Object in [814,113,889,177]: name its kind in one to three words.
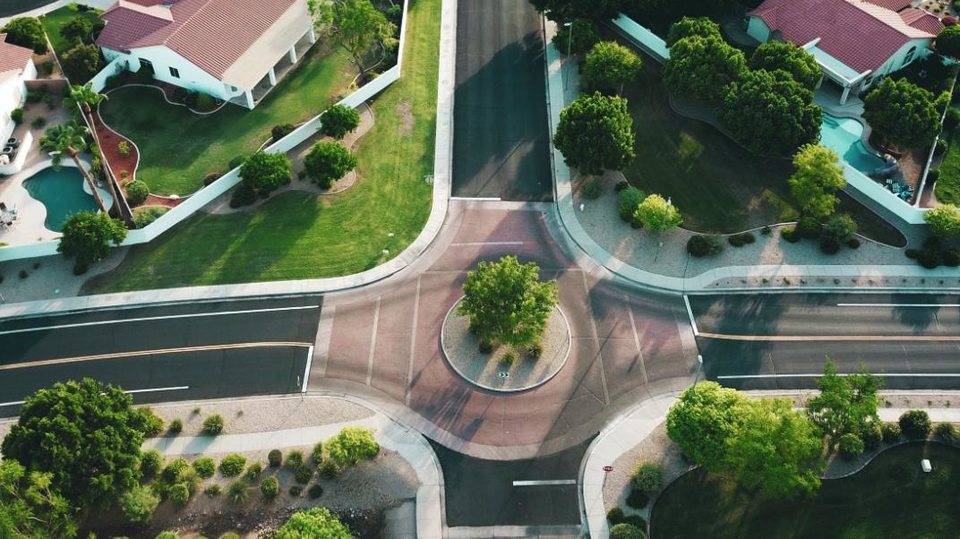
swimming pool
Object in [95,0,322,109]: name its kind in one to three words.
house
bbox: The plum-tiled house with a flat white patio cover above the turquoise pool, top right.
[736,0,927,102]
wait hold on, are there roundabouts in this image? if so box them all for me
[307,200,703,459]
